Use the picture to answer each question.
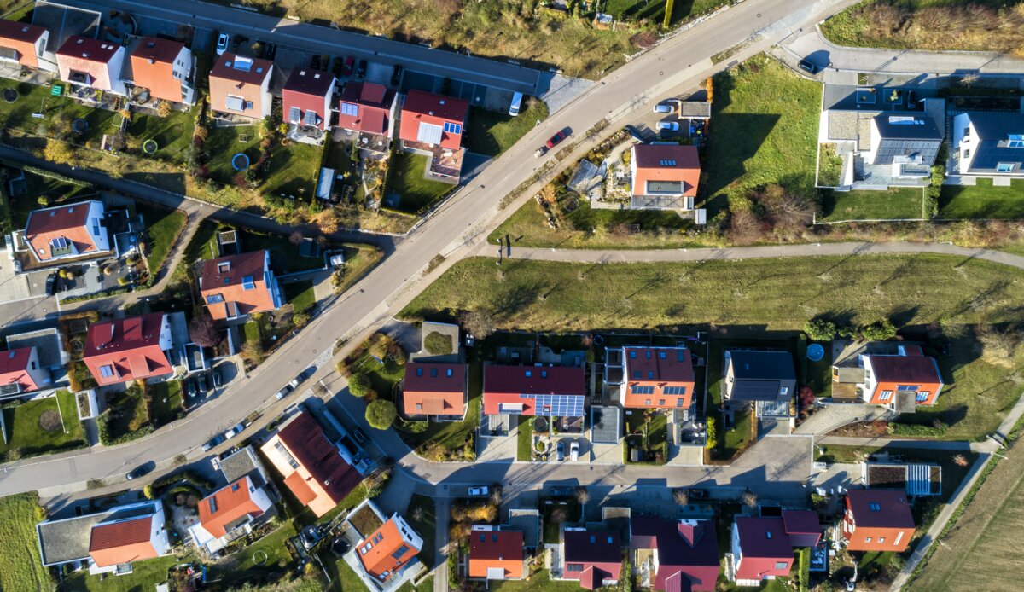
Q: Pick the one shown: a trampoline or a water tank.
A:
trampoline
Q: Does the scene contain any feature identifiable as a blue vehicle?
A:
Yes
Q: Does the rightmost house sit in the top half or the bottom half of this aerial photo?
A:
top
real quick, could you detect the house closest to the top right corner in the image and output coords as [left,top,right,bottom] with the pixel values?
[944,112,1024,176]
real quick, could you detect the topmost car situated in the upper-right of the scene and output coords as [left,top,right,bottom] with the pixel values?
[795,58,818,75]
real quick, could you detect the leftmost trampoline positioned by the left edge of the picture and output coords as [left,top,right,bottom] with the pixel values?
[2,87,19,103]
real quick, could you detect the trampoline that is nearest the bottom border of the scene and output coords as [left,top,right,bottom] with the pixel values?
[331,537,350,556]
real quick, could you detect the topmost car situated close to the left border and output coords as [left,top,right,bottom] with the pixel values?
[45,271,60,296]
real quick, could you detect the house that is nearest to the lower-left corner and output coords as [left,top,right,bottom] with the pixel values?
[37,496,169,575]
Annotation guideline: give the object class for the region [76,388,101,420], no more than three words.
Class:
building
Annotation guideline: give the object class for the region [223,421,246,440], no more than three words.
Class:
car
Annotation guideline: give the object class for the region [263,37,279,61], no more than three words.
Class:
car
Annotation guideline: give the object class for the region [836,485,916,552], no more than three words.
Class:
house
